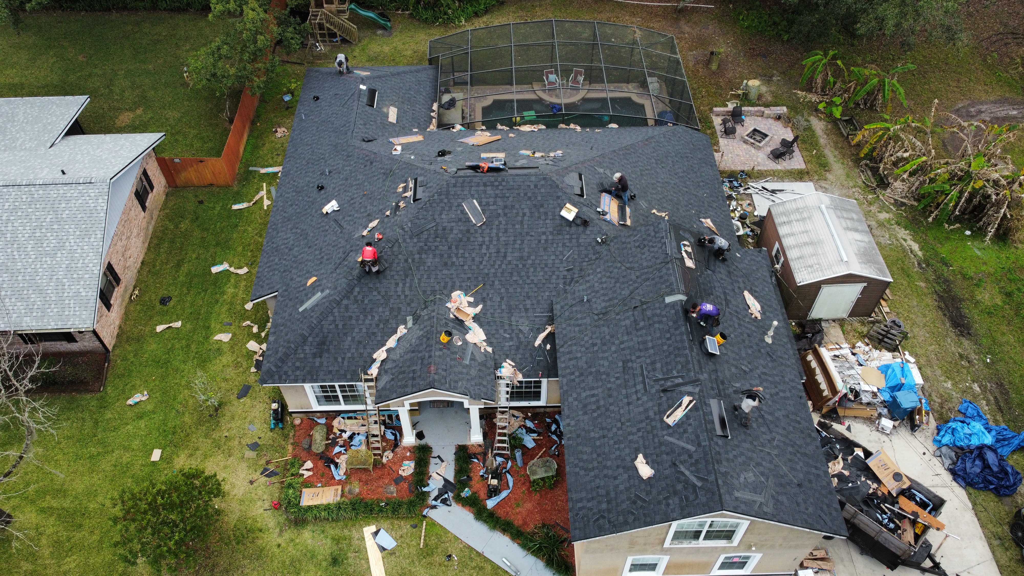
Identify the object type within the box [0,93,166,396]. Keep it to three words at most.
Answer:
house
